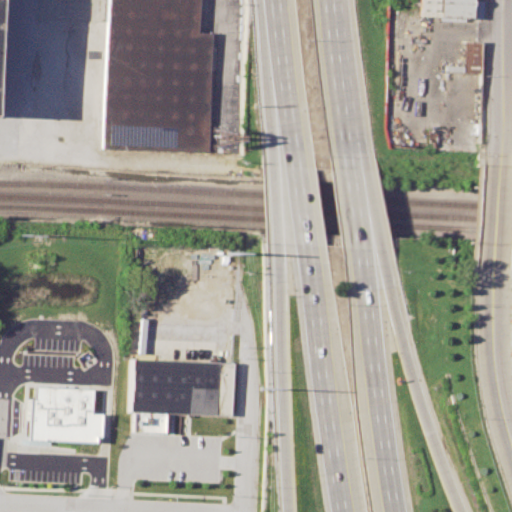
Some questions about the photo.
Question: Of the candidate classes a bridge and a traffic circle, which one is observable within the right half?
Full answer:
The one visible within the right half is a bridge.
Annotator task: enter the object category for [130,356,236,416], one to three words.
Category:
building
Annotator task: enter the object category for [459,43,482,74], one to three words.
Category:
shed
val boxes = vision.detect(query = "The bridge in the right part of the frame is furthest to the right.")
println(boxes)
[474,168,512,262]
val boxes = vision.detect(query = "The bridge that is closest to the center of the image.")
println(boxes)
[256,162,328,250]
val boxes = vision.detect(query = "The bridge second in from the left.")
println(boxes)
[332,165,394,250]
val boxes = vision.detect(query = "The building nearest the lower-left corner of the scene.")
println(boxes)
[30,388,105,444]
